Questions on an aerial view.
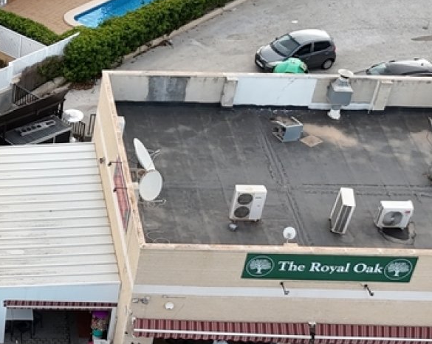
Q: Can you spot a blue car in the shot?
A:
No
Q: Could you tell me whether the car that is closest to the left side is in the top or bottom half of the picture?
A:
top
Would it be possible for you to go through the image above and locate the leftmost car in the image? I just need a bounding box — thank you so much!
[259,21,348,70]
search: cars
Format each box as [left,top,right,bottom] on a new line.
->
[259,21,348,70]
[360,55,432,76]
